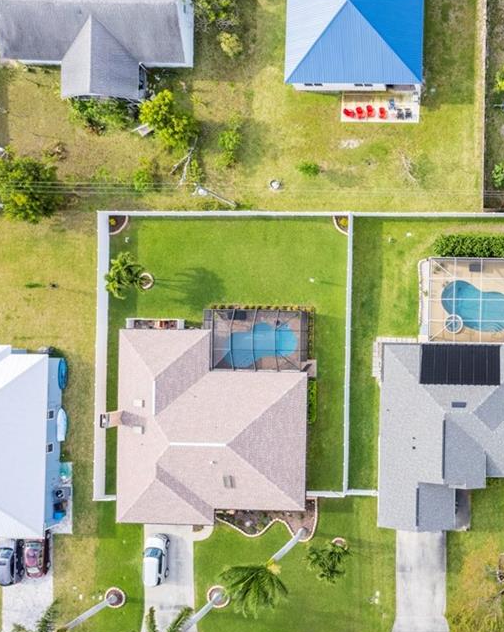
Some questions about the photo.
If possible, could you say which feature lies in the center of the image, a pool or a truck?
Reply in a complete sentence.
It is a pool that can be seen in the center of the image.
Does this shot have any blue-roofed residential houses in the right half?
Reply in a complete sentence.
Yes, a blue-roofed residential house appears in the right half.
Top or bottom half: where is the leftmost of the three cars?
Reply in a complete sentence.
The leftmost of the three cars sits in the bottom half of the picture.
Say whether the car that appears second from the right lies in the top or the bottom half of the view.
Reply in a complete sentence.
Seen from above, the car that appears second from the right lies in the bottom half of the view.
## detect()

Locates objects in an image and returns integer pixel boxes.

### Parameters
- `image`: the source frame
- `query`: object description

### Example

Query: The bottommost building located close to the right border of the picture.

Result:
[377,343,504,531]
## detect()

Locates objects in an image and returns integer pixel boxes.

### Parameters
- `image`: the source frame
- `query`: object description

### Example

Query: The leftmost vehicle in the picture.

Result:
[0,538,25,587]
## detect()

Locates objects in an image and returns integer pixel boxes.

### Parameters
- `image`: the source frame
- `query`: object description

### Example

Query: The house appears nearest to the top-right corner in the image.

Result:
[284,0,424,91]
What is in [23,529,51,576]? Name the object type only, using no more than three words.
car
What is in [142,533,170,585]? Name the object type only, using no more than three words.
car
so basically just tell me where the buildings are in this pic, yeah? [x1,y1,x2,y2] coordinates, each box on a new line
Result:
[0,337,64,539]
[377,343,504,531]
[0,0,193,102]
[284,0,424,91]
[100,328,310,524]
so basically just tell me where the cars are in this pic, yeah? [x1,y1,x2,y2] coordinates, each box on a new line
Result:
[23,529,51,576]
[0,538,25,587]
[142,533,170,585]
